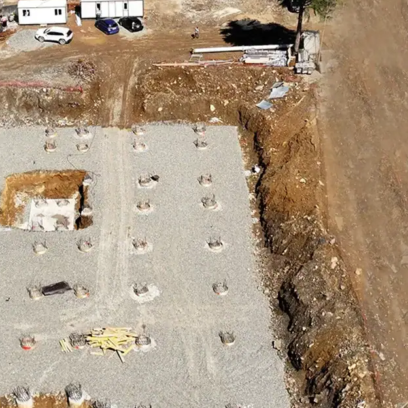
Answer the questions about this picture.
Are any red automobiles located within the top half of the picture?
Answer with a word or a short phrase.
No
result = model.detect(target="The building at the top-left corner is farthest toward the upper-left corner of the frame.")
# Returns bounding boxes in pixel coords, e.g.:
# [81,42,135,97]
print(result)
[18,0,67,24]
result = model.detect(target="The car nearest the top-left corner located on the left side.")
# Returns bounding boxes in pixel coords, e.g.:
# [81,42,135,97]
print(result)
[33,23,74,43]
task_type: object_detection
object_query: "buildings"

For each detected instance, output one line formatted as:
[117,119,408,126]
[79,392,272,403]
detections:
[81,0,144,18]
[18,0,67,24]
